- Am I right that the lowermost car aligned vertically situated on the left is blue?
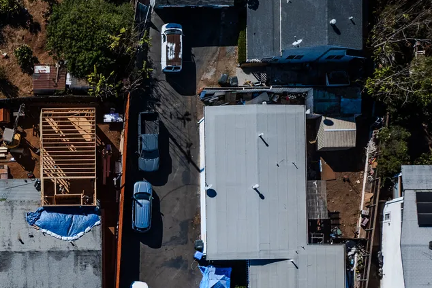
Yes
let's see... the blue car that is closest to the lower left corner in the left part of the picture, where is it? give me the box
[131,180,156,233]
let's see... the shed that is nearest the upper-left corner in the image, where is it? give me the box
[32,65,66,95]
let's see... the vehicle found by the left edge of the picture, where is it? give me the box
[4,103,27,156]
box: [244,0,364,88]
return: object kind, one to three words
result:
house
